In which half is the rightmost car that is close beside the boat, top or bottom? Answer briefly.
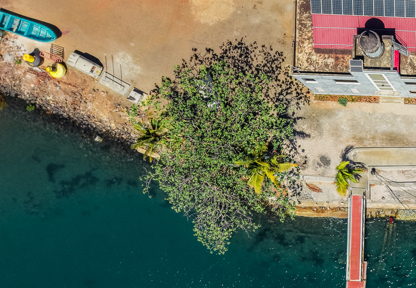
top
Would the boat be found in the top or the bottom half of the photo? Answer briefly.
top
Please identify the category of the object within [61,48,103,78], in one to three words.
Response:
car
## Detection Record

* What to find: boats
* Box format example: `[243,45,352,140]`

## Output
[0,10,58,42]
